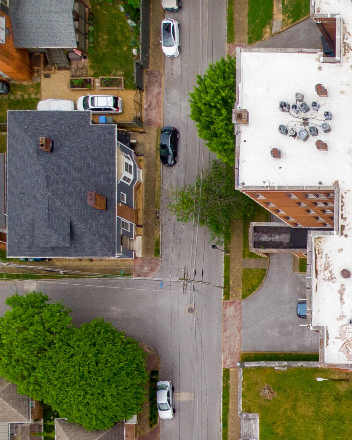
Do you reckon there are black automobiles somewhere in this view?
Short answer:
Yes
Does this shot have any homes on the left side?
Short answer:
Yes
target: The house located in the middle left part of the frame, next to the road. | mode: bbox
[0,108,153,266]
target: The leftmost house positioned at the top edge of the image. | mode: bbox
[0,0,88,79]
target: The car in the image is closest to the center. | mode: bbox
[159,125,180,168]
